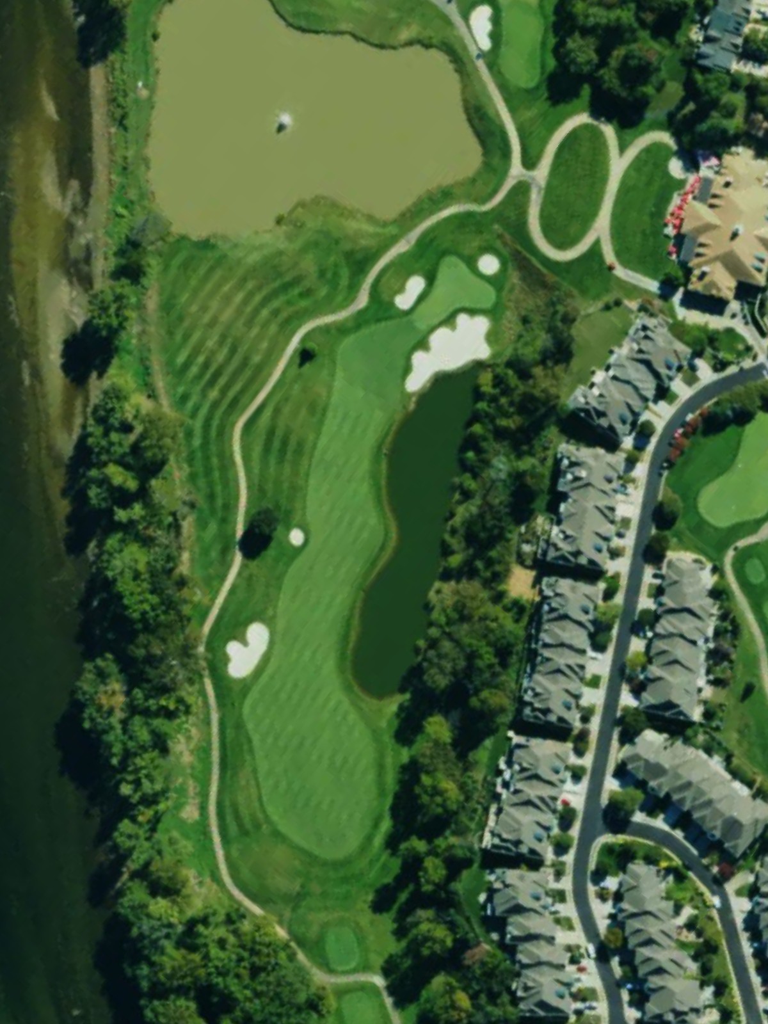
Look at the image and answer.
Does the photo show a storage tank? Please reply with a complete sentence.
No, there appears to be no storage tank in this shot.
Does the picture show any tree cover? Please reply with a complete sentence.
Yes, there is tree cover in the image.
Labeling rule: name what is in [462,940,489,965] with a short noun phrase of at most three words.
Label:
shed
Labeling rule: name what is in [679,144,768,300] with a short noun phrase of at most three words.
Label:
building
